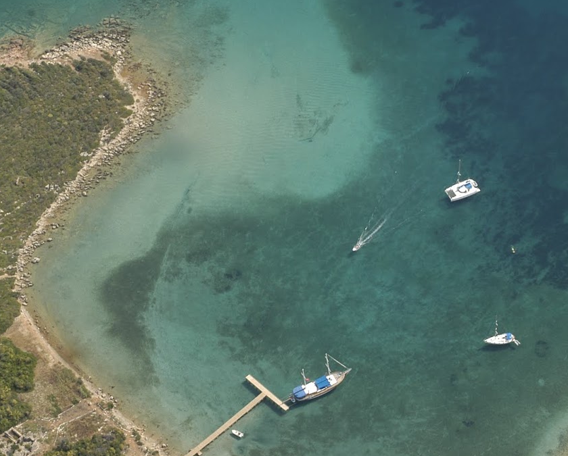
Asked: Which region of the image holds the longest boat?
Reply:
bottom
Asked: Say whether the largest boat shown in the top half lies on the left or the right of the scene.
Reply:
right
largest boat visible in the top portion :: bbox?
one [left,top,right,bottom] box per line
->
[446,160,481,203]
